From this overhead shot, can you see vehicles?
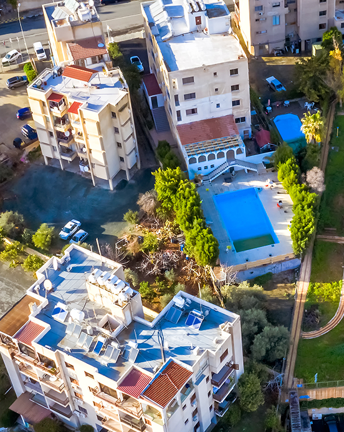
Yes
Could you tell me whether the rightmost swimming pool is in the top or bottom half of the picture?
top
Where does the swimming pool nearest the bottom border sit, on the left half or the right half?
right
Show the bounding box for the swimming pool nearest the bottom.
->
[211,185,281,254]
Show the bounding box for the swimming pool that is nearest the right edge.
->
[271,111,308,144]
